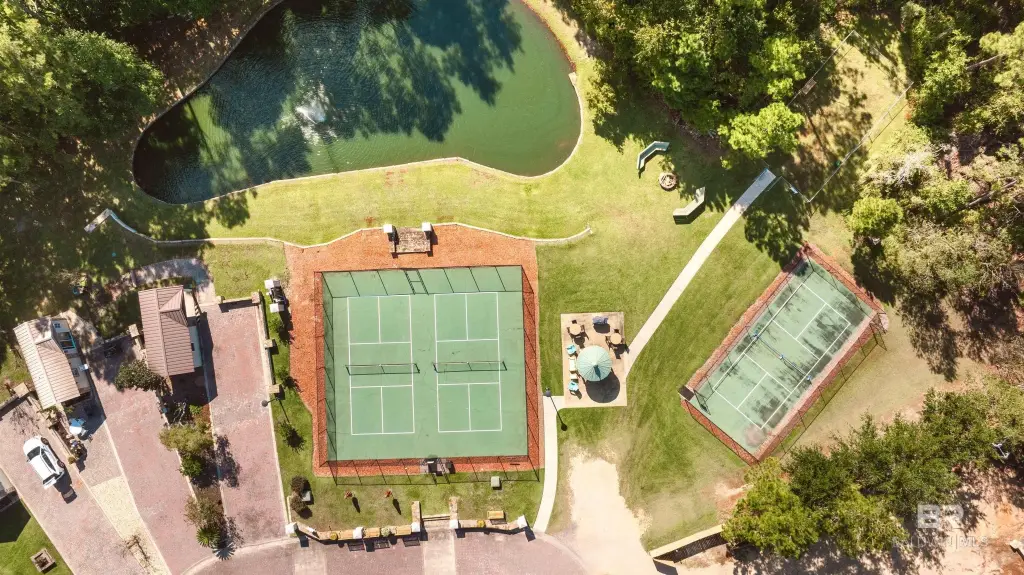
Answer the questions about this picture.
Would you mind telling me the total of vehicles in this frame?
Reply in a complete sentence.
The picture shows 1 vehicle.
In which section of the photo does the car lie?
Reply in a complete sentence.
The car is located in the bottom left region of the scene.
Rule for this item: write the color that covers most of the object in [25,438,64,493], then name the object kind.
white car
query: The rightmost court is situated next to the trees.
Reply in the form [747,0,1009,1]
[689,256,873,458]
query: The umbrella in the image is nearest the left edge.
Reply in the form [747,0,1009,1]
[68,418,91,435]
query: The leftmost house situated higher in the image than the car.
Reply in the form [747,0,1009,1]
[12,314,95,412]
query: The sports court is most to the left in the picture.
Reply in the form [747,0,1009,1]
[321,269,427,462]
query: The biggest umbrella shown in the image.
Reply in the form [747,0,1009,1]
[575,344,613,381]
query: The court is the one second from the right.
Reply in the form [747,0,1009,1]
[421,266,527,459]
